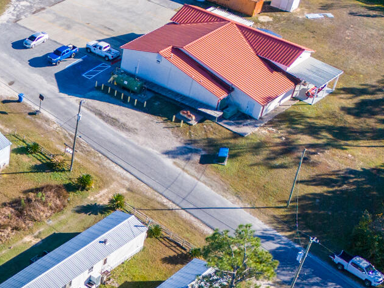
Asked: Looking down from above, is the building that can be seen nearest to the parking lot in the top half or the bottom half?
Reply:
top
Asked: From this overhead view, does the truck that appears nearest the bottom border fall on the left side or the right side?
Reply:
right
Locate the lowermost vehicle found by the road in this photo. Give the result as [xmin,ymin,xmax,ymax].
[329,250,384,288]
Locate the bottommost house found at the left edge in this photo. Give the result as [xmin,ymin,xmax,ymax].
[0,208,151,288]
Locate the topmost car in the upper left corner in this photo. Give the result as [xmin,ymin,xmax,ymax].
[22,32,49,47]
